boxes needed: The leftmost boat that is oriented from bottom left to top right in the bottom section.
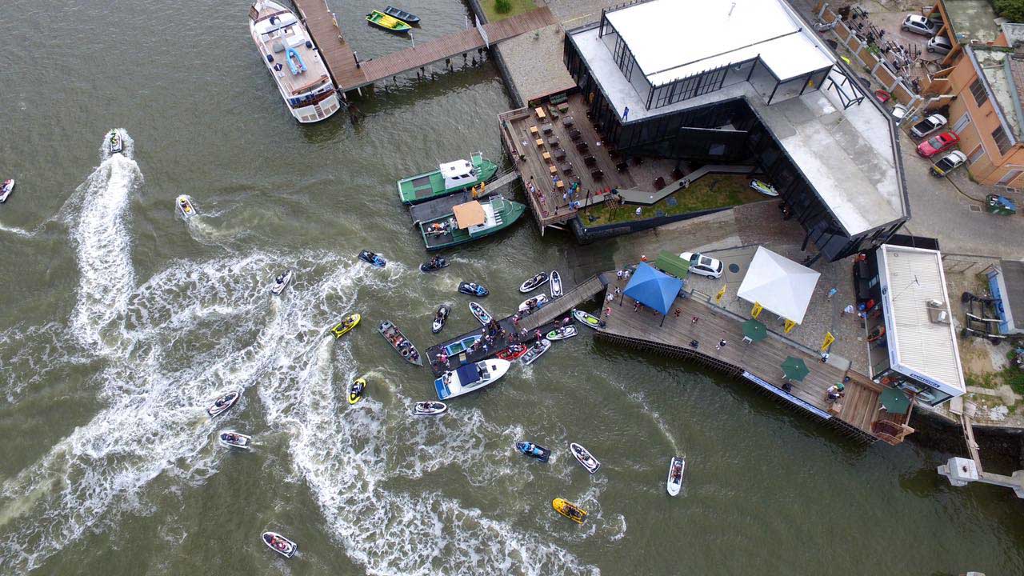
[206,391,241,421]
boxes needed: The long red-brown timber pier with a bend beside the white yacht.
[292,0,558,98]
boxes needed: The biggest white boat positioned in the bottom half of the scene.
[434,356,511,403]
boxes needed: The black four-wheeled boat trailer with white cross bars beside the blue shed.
[964,287,1013,342]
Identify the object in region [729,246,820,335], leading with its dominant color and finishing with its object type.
white gazebo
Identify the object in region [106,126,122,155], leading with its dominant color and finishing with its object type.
white boat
